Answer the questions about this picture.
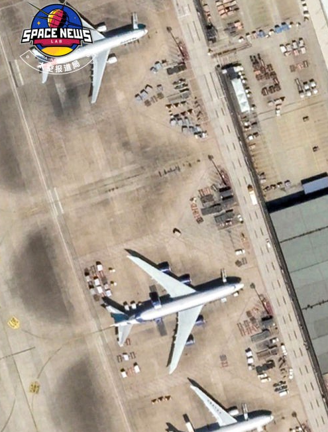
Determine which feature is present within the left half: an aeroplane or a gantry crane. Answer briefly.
aeroplane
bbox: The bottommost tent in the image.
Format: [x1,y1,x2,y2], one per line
[231,78,250,114]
